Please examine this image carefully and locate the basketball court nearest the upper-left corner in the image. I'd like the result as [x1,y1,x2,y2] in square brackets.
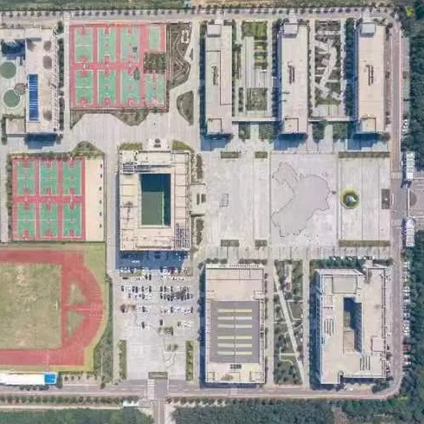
[75,28,93,63]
